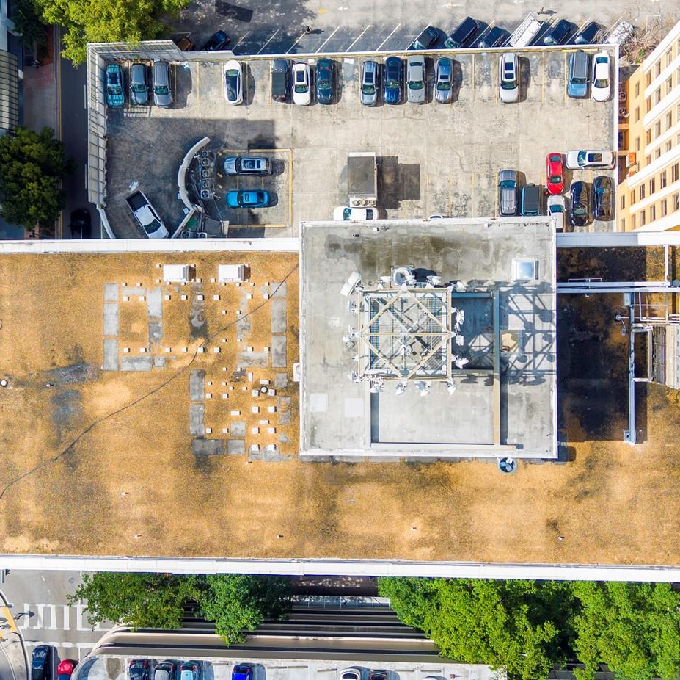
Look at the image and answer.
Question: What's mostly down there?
buildings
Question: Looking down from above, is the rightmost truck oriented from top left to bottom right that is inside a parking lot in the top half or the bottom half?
top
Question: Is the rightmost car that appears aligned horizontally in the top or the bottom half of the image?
top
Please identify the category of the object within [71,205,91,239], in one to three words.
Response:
car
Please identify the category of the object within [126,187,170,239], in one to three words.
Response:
truck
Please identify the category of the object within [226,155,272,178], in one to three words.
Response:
car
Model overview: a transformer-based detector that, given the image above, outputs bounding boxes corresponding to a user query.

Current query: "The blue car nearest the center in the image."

[226,188,271,210]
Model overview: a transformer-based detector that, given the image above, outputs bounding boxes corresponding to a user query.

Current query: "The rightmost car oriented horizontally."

[565,148,613,171]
